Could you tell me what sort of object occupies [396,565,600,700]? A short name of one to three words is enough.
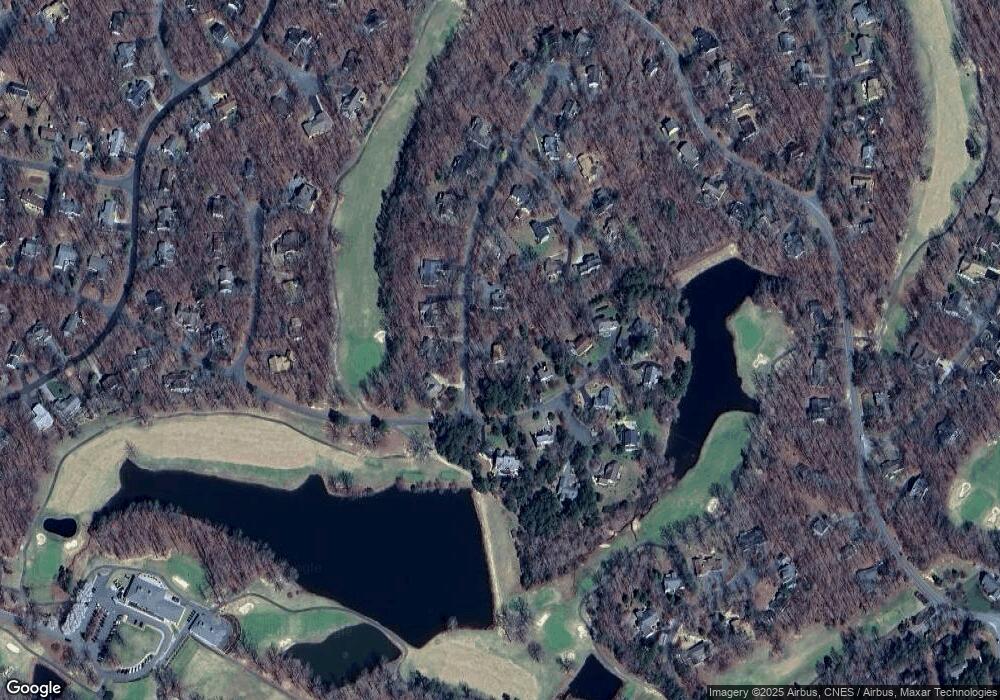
golf course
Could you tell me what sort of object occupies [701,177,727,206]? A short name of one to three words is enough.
house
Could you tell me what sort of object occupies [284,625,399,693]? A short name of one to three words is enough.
pond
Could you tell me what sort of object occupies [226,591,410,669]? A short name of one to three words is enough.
golf course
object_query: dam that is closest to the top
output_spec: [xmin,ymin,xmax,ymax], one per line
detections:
[678,246,742,291]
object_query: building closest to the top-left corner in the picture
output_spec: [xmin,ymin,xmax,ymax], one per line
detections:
[40,2,67,25]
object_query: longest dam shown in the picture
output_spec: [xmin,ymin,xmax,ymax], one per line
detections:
[474,486,521,623]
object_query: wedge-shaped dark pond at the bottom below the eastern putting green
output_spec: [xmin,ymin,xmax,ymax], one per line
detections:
[561,659,620,700]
